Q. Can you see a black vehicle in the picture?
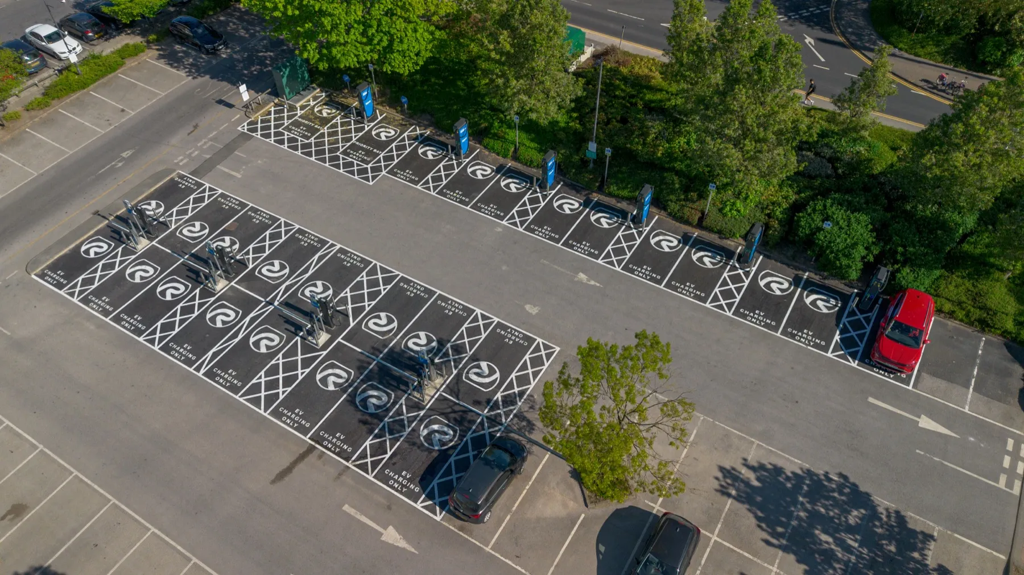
Yes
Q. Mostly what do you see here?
paved ground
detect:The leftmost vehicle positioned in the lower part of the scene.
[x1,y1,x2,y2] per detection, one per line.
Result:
[449,436,530,527]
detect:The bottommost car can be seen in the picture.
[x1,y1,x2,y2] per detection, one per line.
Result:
[626,510,701,575]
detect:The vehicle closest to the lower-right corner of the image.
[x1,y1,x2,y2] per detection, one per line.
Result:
[872,291,930,370]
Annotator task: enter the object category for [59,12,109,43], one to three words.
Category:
car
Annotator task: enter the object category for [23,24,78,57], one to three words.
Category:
car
